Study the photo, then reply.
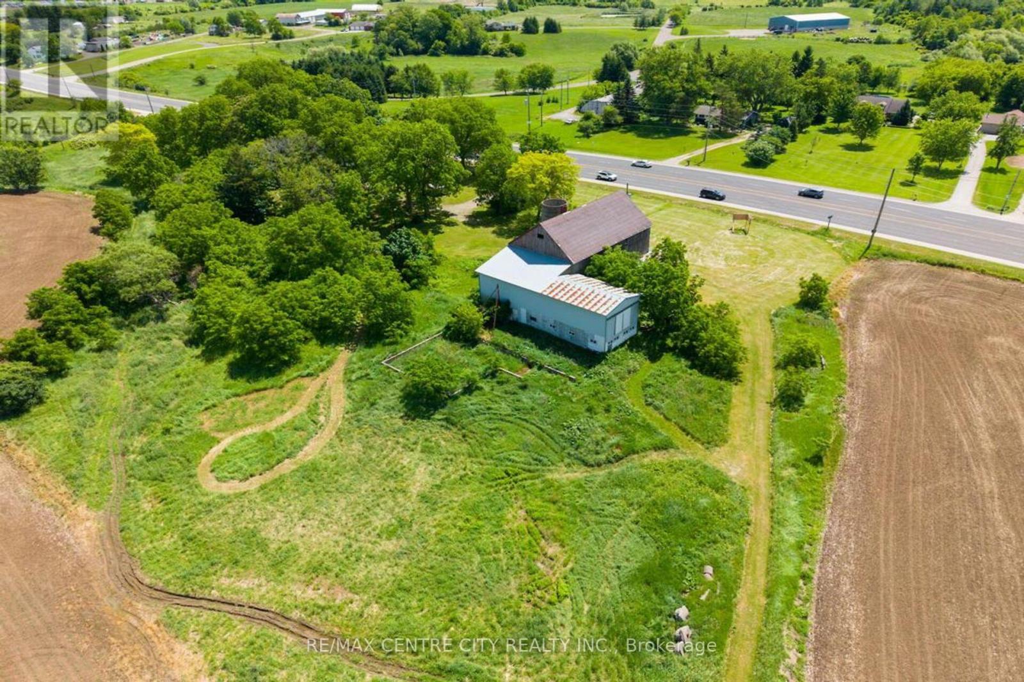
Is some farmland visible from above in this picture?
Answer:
Yes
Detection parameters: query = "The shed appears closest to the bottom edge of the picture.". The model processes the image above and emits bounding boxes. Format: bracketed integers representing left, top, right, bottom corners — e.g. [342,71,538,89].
[474,244,642,353]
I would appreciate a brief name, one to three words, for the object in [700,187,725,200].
vehicle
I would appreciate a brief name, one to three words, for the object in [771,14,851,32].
building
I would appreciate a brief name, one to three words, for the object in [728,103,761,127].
shed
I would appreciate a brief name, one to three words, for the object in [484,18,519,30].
house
